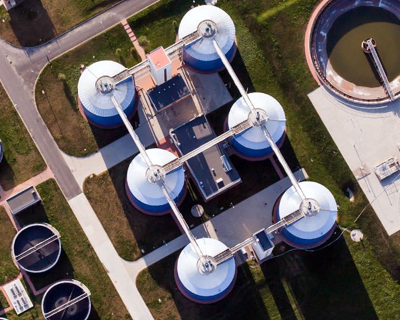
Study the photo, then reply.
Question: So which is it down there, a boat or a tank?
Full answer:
The image shows a tank.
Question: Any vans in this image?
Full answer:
No, the scene contains no van.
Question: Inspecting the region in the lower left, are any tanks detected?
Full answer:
Yes, I can see a tank in the lower left.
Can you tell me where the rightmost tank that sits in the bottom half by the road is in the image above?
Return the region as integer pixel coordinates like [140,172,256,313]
[273,178,338,246]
